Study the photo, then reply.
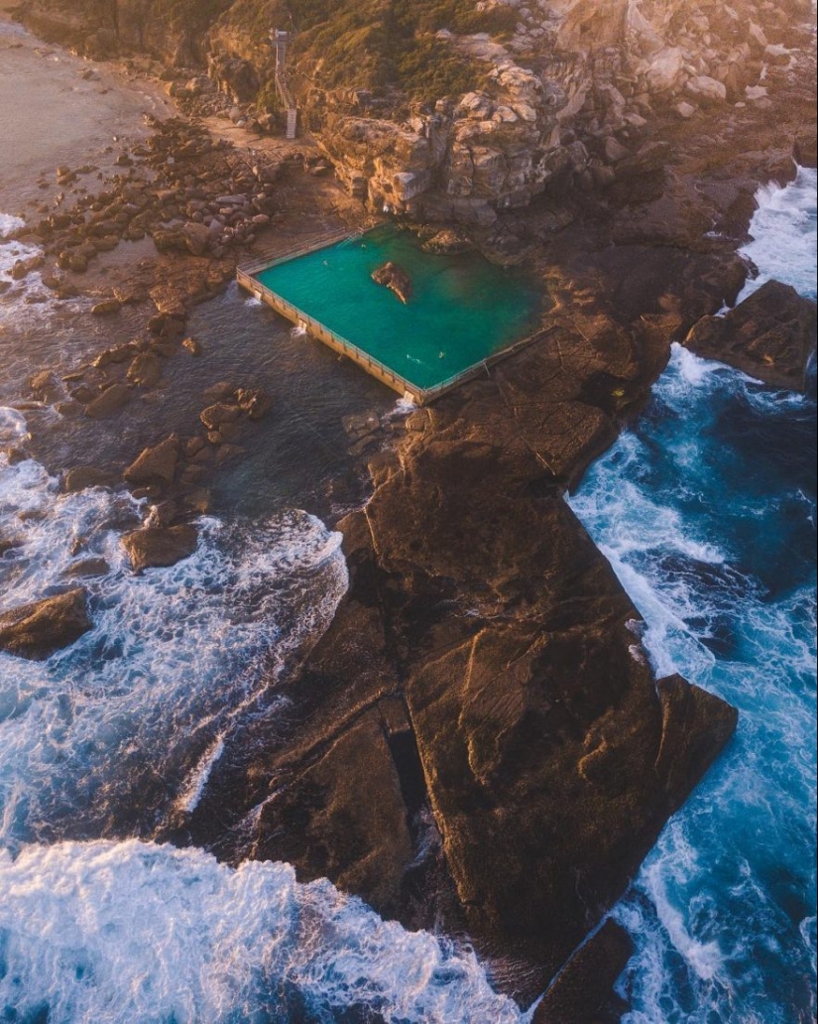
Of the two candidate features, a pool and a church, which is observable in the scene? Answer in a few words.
pool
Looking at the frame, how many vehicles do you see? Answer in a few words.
none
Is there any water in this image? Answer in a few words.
Yes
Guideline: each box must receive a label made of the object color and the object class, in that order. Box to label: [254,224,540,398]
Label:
green swimming pool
